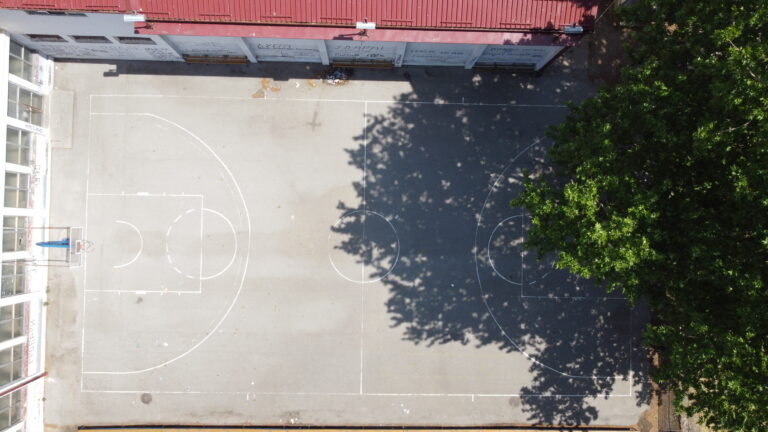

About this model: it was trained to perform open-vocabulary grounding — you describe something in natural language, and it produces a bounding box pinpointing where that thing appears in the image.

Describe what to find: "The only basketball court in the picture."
[42,33,650,432]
